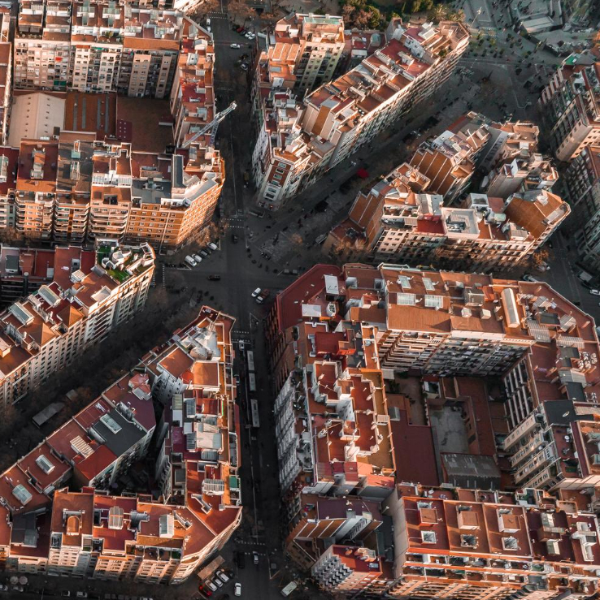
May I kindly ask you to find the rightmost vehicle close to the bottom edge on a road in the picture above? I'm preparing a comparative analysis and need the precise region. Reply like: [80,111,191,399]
[282,581,295,596]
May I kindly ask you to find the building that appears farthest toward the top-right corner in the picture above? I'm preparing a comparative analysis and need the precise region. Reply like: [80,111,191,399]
[518,14,556,39]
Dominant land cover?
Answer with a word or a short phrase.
buildings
